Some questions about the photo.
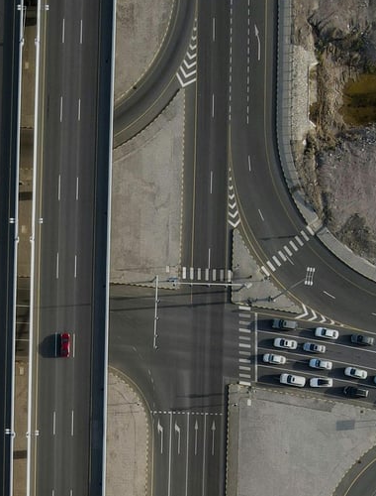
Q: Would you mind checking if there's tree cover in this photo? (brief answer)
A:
No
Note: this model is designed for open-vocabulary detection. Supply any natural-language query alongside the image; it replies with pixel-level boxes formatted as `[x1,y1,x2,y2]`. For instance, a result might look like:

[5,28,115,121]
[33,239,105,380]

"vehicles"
[281,374,304,387]
[274,337,297,350]
[274,319,296,330]
[310,376,333,389]
[310,359,332,370]
[263,354,286,365]
[351,333,375,346]
[316,328,338,340]
[344,367,368,379]
[344,387,368,399]
[303,343,326,354]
